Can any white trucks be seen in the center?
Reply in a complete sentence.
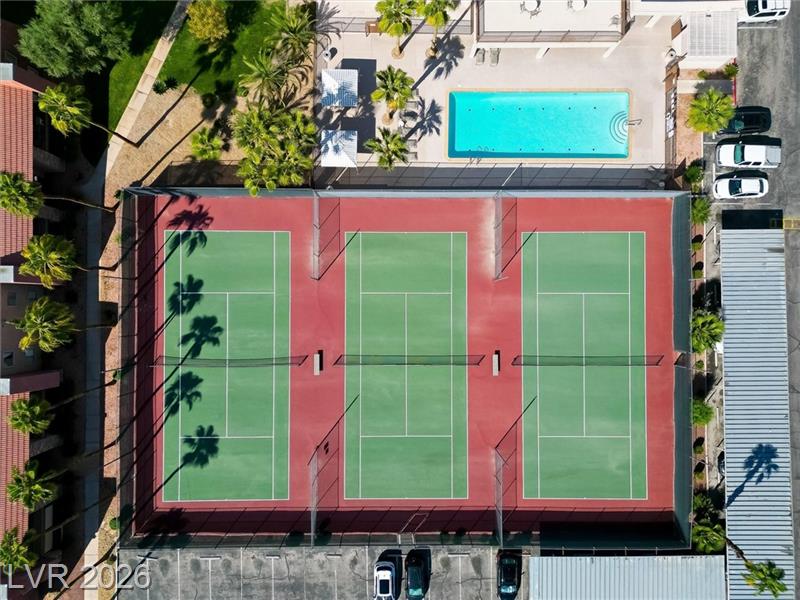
No, there is no white truck in the center.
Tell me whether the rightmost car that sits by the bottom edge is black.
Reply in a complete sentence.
Yes, black is the color of the rightmost car that sits by the bottom edge.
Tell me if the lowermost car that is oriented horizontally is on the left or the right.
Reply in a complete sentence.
It is on the right.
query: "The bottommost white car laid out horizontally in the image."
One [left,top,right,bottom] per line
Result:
[712,173,768,198]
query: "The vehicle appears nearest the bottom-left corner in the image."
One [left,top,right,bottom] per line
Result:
[373,559,398,600]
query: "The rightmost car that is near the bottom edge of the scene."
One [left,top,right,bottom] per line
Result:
[496,550,523,600]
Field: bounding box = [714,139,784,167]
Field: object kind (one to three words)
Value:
truck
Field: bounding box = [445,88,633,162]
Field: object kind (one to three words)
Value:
swimming pool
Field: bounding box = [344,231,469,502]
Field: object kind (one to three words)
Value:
tennis court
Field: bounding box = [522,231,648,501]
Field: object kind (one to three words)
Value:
tennis court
